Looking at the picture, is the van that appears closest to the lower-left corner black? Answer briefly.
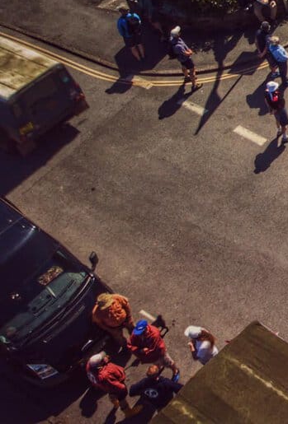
Yes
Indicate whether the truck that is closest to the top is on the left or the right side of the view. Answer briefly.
left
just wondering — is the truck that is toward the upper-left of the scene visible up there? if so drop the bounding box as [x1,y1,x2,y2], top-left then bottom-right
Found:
[0,35,100,175]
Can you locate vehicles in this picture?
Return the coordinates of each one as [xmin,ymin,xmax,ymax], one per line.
[0,35,100,175]
[0,245,114,424]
